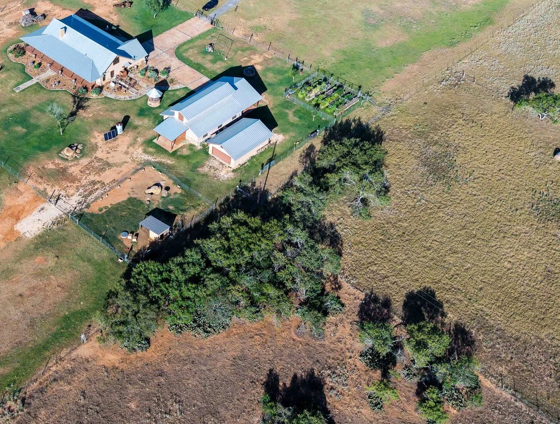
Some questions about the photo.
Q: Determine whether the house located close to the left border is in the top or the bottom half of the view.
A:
top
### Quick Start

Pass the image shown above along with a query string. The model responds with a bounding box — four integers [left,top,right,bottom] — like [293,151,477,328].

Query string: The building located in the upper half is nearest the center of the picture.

[207,118,273,168]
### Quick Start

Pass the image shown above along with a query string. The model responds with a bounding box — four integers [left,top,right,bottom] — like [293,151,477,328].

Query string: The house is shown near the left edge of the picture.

[21,13,149,92]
